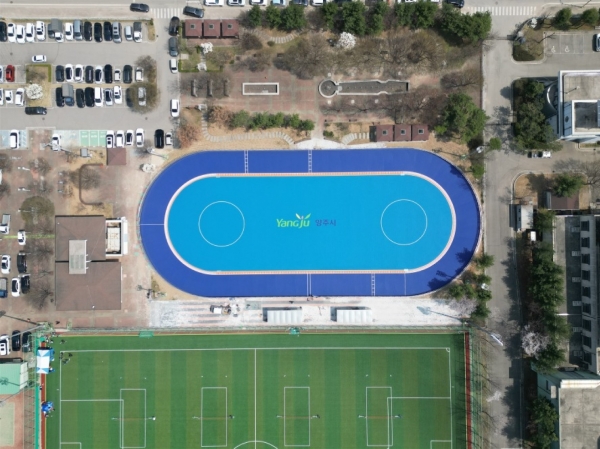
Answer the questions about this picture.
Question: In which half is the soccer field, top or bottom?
bottom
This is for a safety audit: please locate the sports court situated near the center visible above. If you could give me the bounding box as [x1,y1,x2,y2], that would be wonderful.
[137,147,483,300]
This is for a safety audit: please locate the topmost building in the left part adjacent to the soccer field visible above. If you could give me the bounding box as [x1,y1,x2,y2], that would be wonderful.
[54,215,132,312]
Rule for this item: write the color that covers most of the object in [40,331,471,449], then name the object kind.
green soccer field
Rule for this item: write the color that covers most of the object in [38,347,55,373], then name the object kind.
white tent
